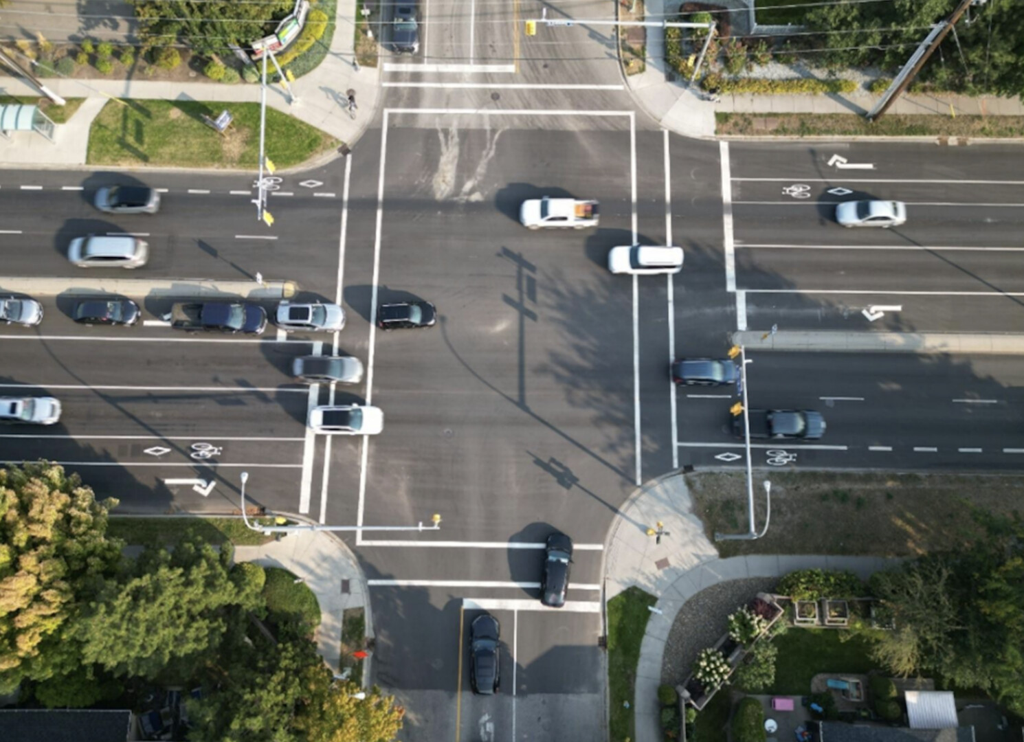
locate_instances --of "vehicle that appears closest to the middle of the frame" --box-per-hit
[377,297,437,332]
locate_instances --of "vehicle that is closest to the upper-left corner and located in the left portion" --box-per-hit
[93,181,165,216]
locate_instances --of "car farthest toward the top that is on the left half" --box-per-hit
[390,0,422,57]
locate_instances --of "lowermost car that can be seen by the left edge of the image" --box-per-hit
[0,391,66,427]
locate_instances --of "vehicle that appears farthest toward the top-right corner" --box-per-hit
[833,195,908,231]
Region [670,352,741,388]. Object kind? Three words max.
car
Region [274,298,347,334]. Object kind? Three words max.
car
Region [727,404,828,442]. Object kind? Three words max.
truck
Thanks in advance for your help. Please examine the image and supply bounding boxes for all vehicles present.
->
[0,295,47,329]
[727,404,828,442]
[390,0,422,57]
[70,295,145,329]
[670,352,741,388]
[833,195,908,231]
[520,193,600,232]
[377,297,437,332]
[166,298,270,335]
[607,240,685,278]
[93,181,165,216]
[66,231,153,270]
[292,351,364,386]
[0,391,66,427]
[274,298,347,334]
[538,533,577,609]
[466,614,505,695]
[307,400,385,437]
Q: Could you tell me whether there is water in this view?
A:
No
